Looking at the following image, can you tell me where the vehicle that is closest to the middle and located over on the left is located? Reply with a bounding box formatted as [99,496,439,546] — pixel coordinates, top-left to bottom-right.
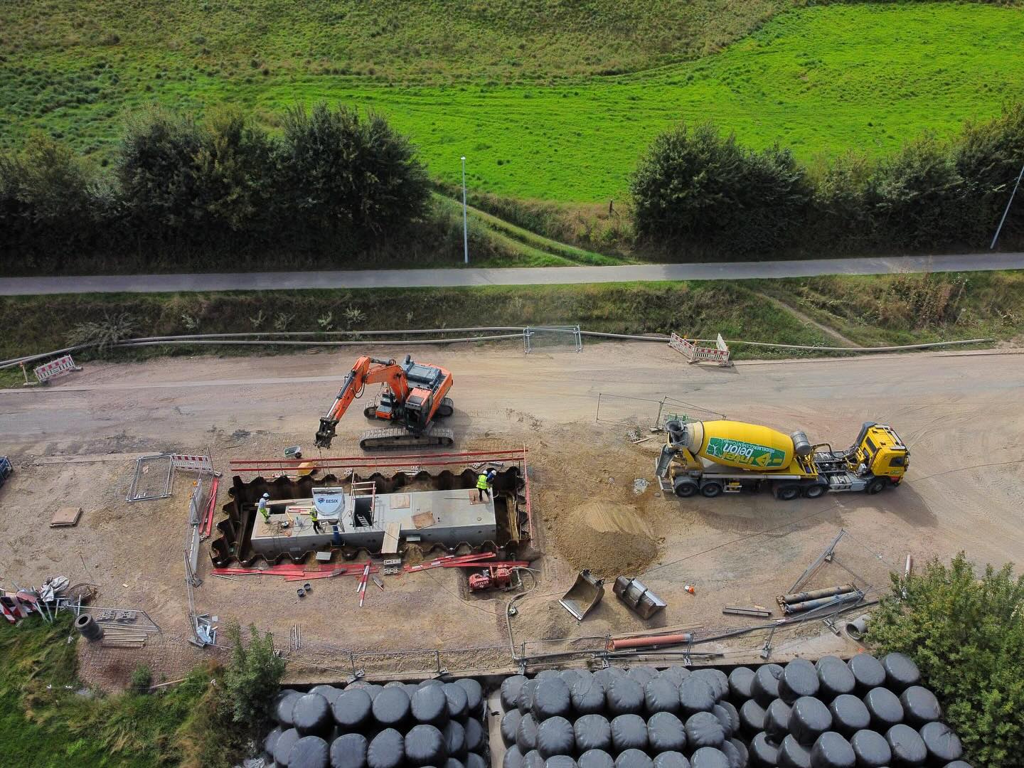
[309,353,457,452]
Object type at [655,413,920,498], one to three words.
truck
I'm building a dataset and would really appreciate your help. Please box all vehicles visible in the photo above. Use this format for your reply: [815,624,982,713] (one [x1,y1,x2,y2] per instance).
[309,353,457,452]
[655,413,920,498]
